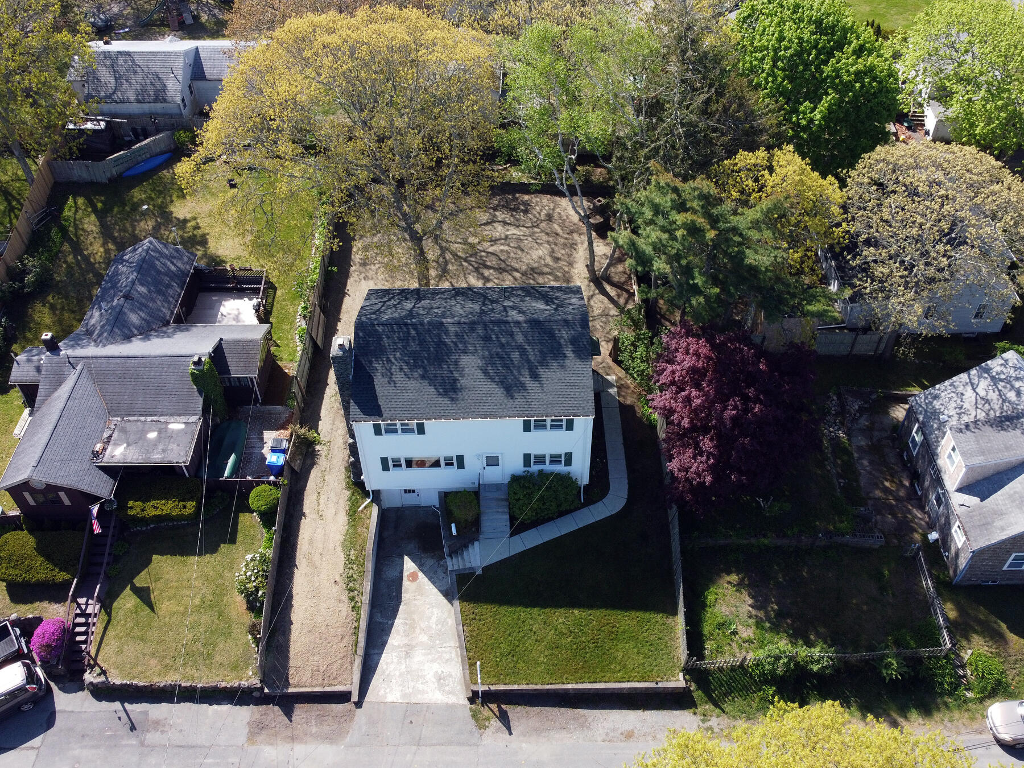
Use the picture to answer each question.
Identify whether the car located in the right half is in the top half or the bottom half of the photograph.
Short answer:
bottom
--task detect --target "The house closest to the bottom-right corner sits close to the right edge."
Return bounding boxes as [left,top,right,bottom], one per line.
[906,366,1024,589]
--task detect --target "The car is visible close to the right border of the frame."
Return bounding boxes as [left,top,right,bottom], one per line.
[984,704,1024,752]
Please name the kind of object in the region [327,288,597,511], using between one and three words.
house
